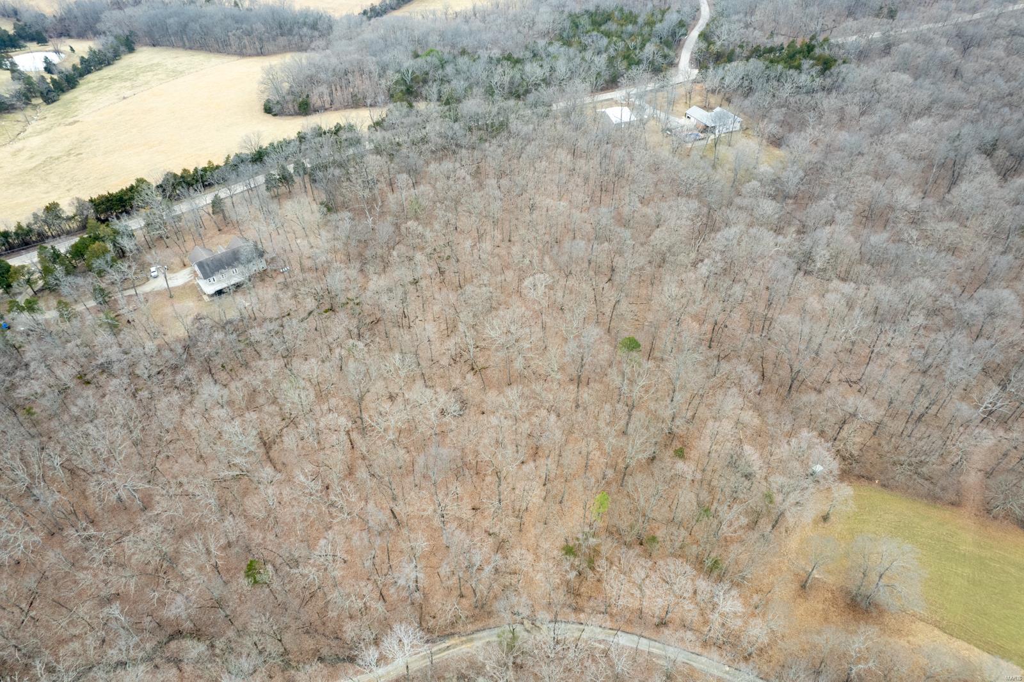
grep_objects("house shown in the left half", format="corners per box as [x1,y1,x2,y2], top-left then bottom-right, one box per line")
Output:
[185,234,266,302]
